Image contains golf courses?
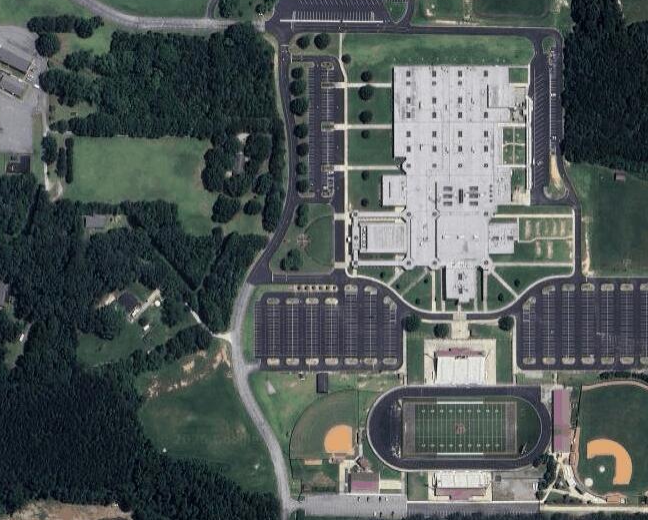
No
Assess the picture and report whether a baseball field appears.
Yes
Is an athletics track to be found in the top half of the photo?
No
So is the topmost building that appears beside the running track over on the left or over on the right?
right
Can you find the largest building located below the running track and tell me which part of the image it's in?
bottom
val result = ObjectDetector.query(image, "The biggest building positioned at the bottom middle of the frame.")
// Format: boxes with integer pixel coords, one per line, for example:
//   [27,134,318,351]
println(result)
[350,471,381,493]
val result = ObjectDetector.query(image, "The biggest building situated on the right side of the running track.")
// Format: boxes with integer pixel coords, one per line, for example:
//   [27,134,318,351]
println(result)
[553,389,570,453]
